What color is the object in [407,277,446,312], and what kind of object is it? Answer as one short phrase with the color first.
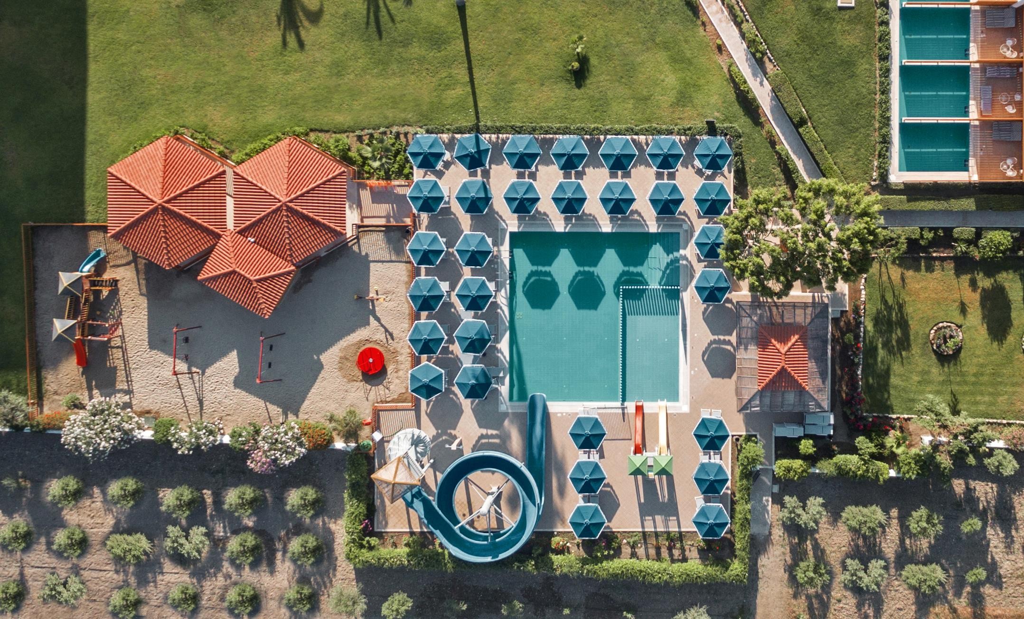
blue umbrella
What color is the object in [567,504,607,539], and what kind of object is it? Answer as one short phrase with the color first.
blue umbrella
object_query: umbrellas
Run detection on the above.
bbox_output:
[550,136,590,171]
[567,415,606,450]
[454,277,494,312]
[567,504,607,539]
[551,180,590,215]
[406,320,446,356]
[647,135,686,171]
[646,181,685,217]
[692,504,731,539]
[454,179,493,215]
[454,364,493,400]
[454,232,494,267]
[693,224,731,260]
[598,136,636,170]
[410,362,445,402]
[407,277,446,312]
[407,231,446,266]
[694,136,733,172]
[568,459,606,494]
[503,134,541,169]
[692,181,732,216]
[597,180,637,215]
[453,318,493,355]
[693,268,732,303]
[691,415,730,450]
[453,133,492,171]
[692,459,732,495]
[405,179,445,214]
[503,180,541,215]
[407,135,446,170]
